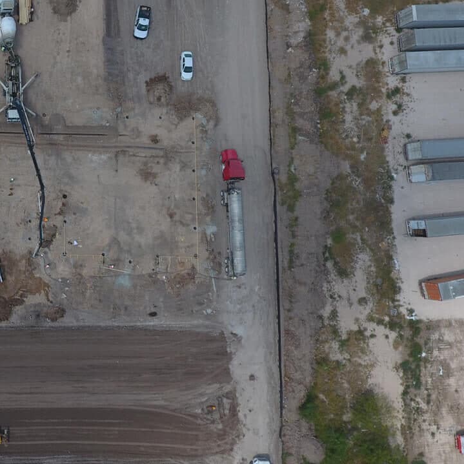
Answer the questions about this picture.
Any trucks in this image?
Yes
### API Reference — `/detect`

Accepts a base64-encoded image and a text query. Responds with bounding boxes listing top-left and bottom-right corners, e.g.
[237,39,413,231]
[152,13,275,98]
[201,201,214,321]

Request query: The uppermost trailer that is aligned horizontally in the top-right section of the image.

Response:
[396,4,464,27]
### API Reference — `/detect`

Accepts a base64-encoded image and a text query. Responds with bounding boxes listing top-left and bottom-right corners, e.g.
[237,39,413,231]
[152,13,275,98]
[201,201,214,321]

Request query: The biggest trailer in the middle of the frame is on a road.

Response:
[225,192,247,278]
